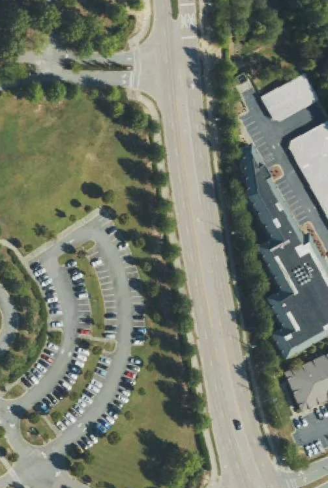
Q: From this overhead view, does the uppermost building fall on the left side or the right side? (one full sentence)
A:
The uppermost building is on the right side of the image.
